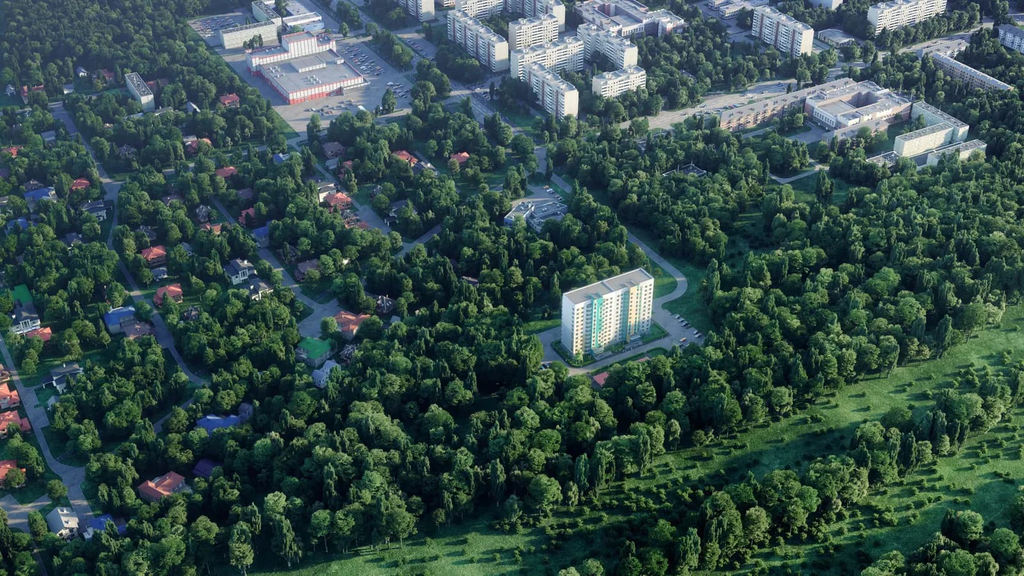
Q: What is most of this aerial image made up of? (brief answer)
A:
trees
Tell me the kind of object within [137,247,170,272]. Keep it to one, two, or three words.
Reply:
house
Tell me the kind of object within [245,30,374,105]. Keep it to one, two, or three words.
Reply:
building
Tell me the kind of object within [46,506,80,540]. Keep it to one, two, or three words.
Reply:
house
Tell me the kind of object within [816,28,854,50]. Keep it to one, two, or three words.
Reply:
building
